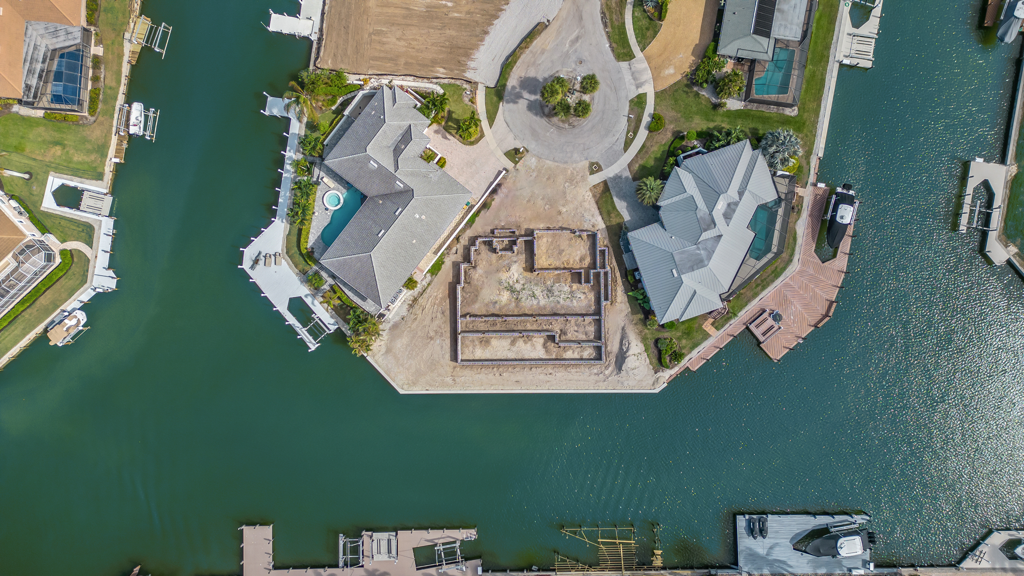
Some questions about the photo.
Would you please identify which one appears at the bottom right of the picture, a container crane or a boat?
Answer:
boat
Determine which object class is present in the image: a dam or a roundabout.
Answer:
roundabout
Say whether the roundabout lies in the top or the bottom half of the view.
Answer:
top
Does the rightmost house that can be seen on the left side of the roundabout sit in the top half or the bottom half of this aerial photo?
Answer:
top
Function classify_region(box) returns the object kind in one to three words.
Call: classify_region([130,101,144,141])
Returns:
boat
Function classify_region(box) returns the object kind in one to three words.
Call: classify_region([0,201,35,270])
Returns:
house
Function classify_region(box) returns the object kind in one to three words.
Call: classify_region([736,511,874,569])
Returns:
pier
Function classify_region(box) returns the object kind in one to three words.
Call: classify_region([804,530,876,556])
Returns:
boat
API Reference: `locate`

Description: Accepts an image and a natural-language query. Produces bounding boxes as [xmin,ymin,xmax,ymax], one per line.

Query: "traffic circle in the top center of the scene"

[503,37,630,164]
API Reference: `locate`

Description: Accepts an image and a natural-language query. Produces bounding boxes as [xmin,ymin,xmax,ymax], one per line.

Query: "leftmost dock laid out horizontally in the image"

[42,177,116,220]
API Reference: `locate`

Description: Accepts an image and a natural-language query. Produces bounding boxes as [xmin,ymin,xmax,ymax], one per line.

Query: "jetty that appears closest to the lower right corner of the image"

[951,526,1024,571]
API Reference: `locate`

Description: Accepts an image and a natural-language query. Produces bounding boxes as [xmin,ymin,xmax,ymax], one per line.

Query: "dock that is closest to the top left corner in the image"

[128,17,151,68]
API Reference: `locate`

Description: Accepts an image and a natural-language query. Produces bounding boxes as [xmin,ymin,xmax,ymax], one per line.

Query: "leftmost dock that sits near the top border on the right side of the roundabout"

[839,0,885,72]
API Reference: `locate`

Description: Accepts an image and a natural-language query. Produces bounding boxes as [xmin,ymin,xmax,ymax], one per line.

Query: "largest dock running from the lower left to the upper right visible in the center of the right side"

[677,187,859,376]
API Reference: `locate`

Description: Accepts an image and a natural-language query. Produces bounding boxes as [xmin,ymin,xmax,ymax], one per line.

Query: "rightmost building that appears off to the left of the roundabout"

[319,85,473,309]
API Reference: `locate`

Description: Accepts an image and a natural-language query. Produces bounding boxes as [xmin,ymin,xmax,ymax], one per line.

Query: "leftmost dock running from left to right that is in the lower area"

[239,521,483,576]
